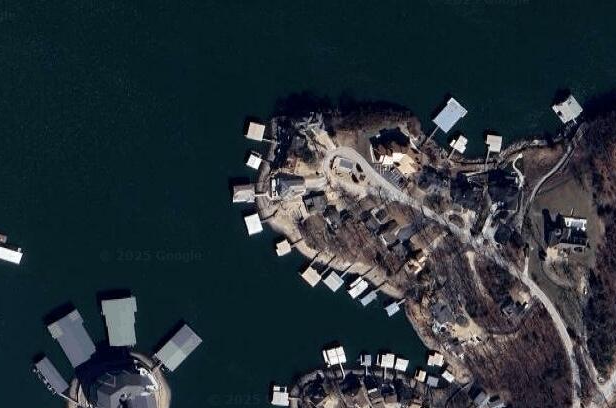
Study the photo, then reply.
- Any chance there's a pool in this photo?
No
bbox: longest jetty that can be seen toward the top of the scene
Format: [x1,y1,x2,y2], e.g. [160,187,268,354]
[426,98,471,143]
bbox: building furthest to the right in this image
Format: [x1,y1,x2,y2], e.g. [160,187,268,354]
[551,224,587,251]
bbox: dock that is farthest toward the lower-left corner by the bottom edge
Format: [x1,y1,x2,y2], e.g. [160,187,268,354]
[36,356,78,402]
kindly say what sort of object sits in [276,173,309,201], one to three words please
house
